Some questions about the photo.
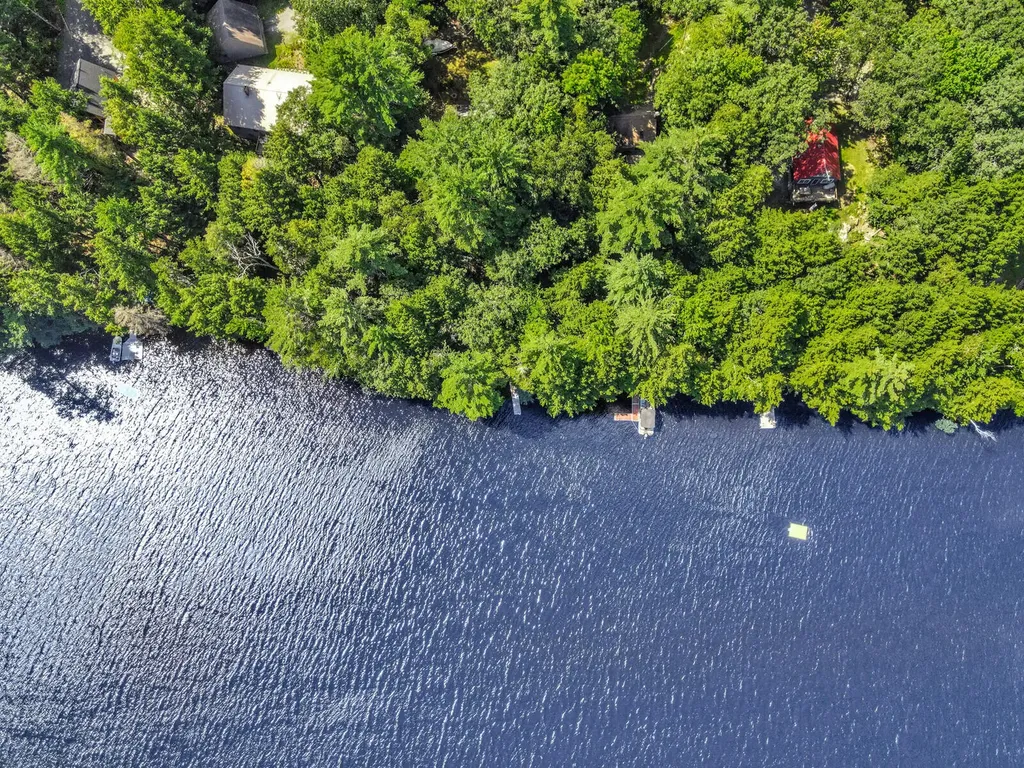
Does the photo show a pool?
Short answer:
No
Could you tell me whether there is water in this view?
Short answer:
Yes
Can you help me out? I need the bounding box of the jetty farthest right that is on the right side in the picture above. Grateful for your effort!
[759,397,776,429]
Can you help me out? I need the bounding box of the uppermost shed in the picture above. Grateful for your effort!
[214,0,270,67]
